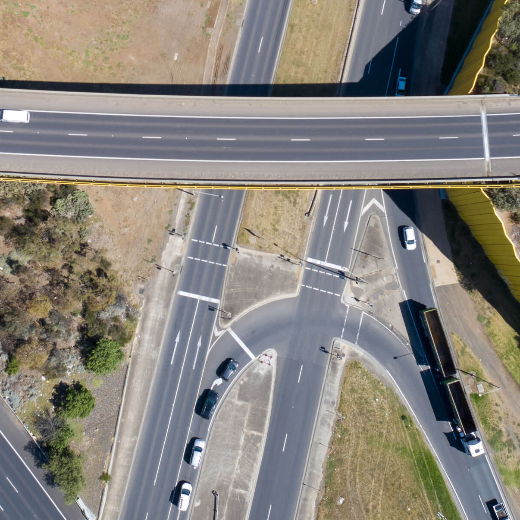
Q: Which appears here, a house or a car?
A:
car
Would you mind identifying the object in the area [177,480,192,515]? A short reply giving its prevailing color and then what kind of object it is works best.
white vehicle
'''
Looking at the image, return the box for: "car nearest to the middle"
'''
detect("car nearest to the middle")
[220,358,239,383]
